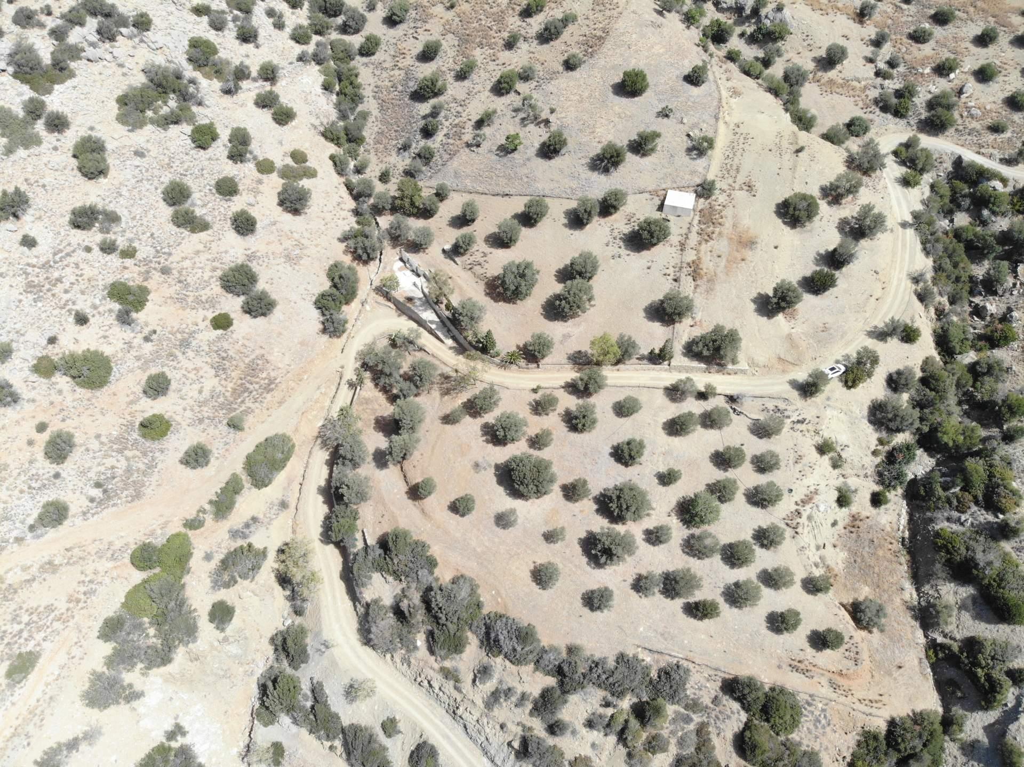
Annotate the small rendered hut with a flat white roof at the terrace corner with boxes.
[663,190,696,218]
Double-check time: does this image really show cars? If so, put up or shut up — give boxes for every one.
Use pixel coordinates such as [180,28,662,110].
[822,363,847,379]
